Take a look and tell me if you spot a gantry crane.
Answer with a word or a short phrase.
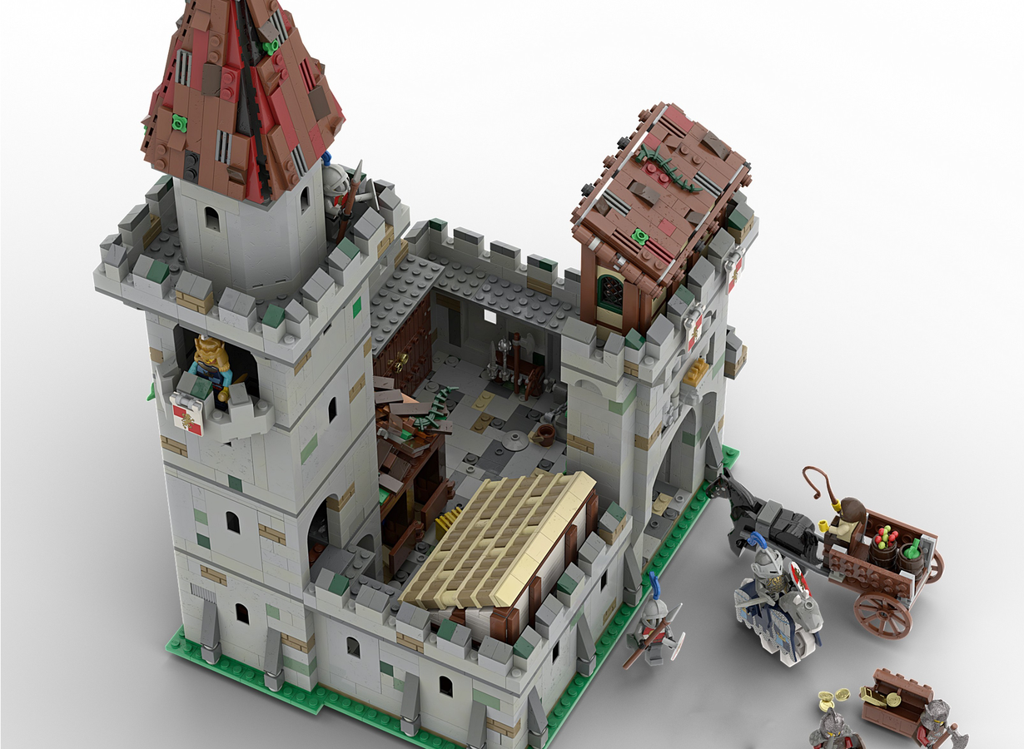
No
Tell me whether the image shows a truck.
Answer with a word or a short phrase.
No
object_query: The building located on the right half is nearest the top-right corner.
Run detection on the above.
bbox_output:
[566,98,753,352]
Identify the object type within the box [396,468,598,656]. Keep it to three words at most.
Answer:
shed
